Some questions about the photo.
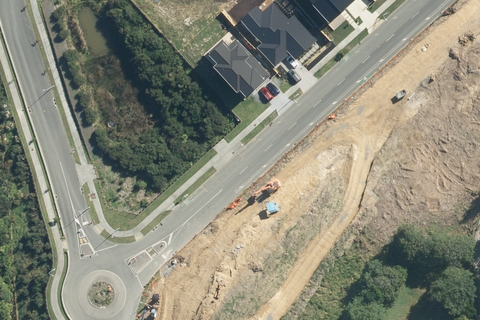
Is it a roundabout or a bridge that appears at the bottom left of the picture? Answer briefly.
roundabout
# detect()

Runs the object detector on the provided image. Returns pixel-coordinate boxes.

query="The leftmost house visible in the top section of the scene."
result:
[208,39,271,98]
